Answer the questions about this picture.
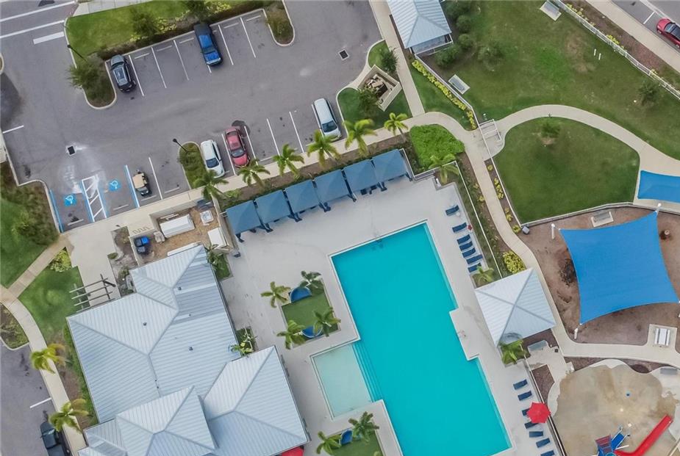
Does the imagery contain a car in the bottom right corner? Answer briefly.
No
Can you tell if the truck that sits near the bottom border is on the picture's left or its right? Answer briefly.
left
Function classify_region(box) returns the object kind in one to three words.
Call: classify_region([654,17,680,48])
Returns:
car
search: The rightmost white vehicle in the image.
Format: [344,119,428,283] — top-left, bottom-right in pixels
[311,95,343,140]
